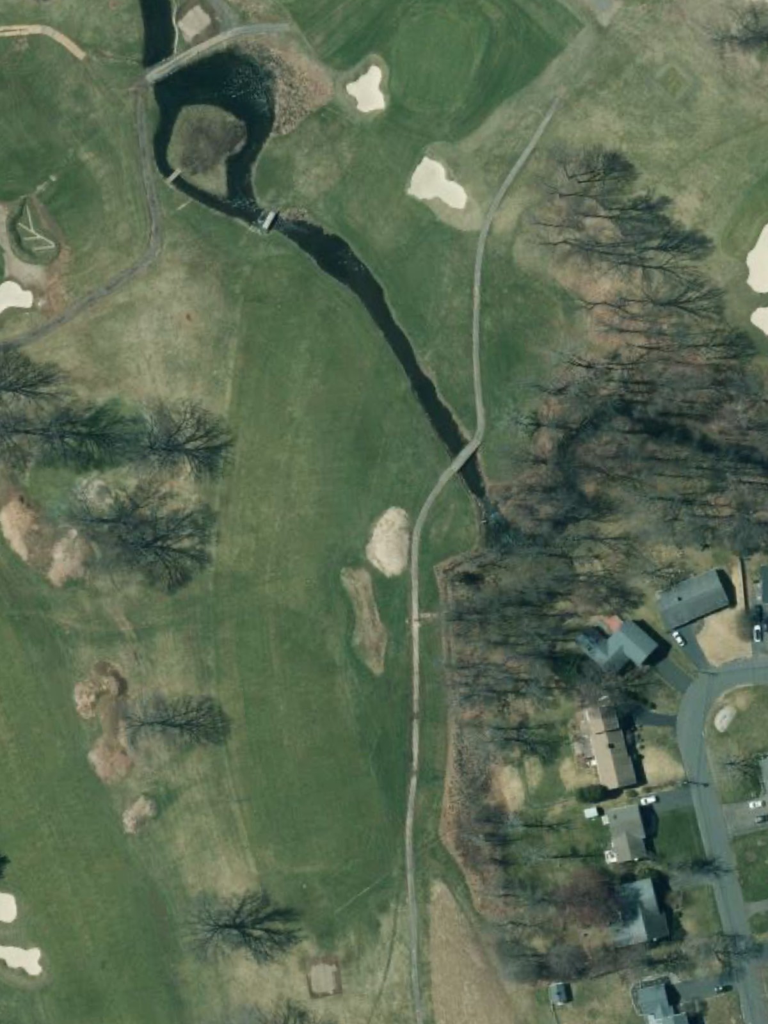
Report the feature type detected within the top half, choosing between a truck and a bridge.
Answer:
bridge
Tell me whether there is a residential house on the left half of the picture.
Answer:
No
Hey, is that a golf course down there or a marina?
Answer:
golf course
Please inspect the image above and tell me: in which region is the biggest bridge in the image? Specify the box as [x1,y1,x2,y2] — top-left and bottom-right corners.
[141,52,186,85]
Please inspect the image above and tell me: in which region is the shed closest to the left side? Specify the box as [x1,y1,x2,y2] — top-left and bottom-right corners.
[551,985,569,1004]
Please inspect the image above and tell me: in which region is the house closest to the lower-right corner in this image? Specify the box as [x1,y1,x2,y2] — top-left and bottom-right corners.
[637,981,689,1024]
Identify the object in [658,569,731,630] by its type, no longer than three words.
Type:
house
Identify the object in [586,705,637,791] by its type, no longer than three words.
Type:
house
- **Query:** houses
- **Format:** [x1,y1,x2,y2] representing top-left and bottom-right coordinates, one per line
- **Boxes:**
[760,565,768,604]
[586,705,637,791]
[618,879,676,946]
[758,757,768,800]
[573,619,659,672]
[637,981,689,1024]
[658,569,731,630]
[606,805,645,864]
